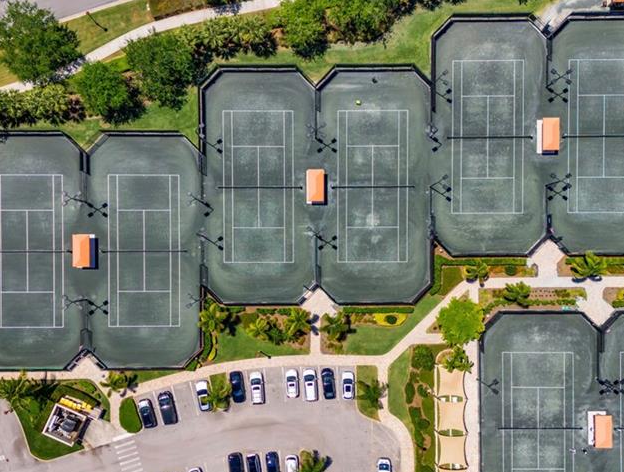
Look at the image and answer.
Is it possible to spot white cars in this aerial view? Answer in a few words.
Yes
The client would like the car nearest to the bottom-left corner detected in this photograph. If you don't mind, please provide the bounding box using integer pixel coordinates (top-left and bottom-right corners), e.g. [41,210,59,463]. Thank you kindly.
[139,397,157,429]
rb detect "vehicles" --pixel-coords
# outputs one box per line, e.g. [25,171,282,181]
[286,456,298,472]
[285,368,299,398]
[246,452,261,472]
[159,392,177,424]
[139,397,157,429]
[249,372,264,403]
[195,379,211,411]
[230,371,247,402]
[321,367,335,398]
[374,455,392,472]
[341,370,355,399]
[229,452,244,472]
[302,368,318,402]
[266,451,281,472]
